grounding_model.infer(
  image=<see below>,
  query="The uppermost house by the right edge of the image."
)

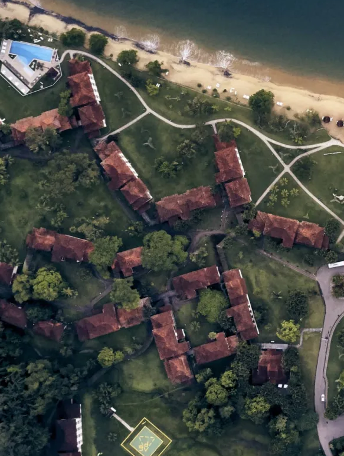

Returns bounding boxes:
[249,214,330,250]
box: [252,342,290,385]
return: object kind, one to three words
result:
house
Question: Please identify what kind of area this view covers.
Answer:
residential area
